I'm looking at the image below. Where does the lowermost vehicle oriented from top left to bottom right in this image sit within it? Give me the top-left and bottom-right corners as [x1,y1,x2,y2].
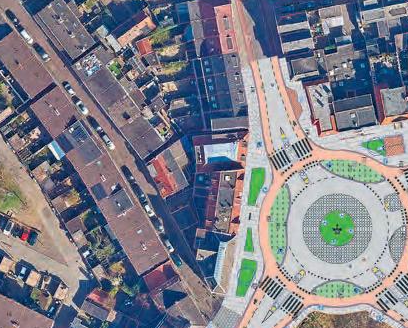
[171,252,183,268]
